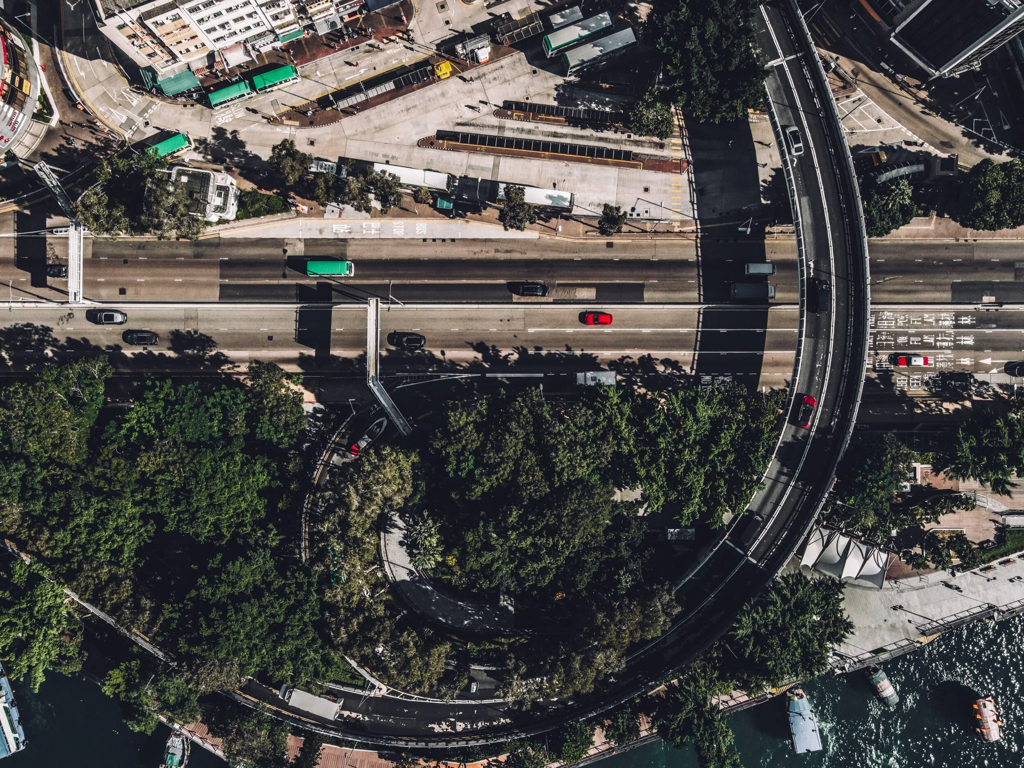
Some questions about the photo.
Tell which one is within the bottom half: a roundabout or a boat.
boat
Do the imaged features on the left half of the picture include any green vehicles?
Yes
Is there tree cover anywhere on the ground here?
Yes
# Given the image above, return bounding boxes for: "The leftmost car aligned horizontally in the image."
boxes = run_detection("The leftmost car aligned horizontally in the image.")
[44,265,70,278]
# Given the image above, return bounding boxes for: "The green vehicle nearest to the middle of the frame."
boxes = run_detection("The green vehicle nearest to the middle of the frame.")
[306,260,350,276]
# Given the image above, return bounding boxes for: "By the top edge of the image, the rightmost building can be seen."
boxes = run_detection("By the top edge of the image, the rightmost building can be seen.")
[870,0,1024,91]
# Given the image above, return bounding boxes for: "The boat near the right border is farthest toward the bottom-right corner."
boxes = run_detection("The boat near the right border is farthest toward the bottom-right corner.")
[971,683,1005,746]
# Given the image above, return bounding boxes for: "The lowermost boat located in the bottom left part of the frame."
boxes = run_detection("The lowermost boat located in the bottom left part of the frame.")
[161,729,187,768]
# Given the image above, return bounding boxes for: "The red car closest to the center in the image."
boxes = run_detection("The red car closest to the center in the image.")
[586,312,613,326]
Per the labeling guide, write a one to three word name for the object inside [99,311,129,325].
car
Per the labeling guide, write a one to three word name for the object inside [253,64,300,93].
vehicle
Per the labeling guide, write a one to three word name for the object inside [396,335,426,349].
car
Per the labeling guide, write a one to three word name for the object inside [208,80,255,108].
vehicle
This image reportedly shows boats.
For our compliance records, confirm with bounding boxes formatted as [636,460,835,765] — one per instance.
[863,663,903,712]
[971,683,1005,746]
[161,729,187,768]
[781,690,818,756]
[0,644,31,766]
